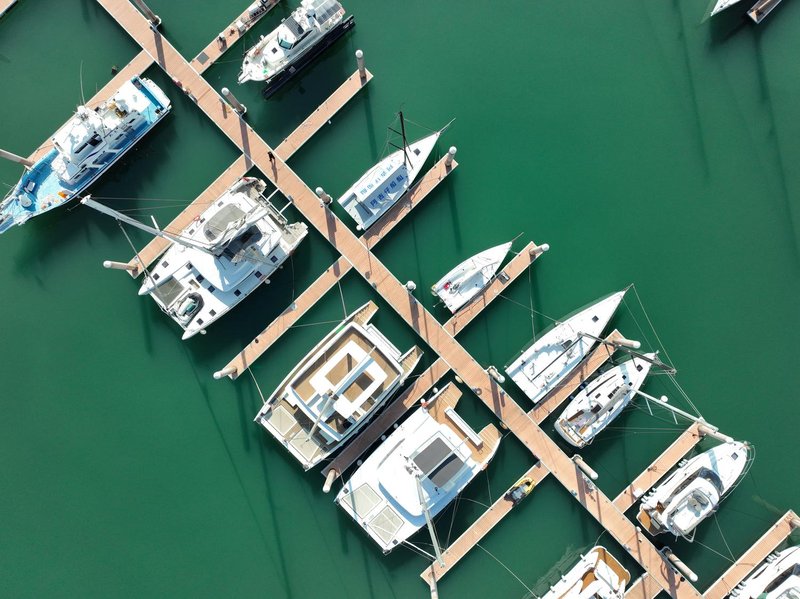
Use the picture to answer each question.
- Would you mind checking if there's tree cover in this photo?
No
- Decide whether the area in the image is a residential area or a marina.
marina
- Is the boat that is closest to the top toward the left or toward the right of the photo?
right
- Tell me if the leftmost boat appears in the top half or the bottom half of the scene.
top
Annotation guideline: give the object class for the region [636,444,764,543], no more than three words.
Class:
boat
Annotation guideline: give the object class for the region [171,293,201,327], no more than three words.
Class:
boat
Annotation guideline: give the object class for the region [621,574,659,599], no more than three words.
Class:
pier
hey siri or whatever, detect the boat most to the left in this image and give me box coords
[0,62,173,236]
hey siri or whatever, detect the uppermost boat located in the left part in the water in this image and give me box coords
[233,0,364,94]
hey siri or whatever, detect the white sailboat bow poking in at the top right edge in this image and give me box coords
[699,0,754,27]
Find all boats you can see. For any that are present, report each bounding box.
[171,293,201,327]
[534,544,630,599]
[233,0,364,94]
[0,62,173,236]
[338,109,455,230]
[430,233,523,313]
[80,173,312,339]
[337,385,503,568]
[255,300,420,468]
[505,476,537,505]
[720,545,800,599]
[699,0,754,27]
[636,444,764,543]
[552,353,725,452]
[502,284,682,401]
